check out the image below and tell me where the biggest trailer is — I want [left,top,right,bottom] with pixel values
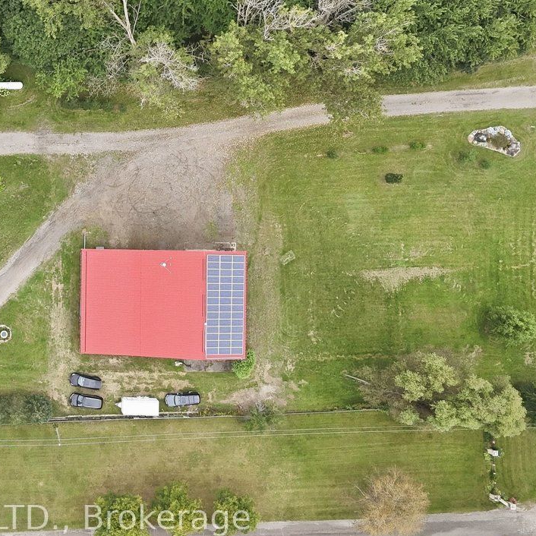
[113,395,159,417]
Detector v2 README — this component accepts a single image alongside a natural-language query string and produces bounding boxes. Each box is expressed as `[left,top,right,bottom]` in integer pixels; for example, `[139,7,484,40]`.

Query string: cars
[166,393,202,408]
[70,394,104,410]
[69,374,103,391]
